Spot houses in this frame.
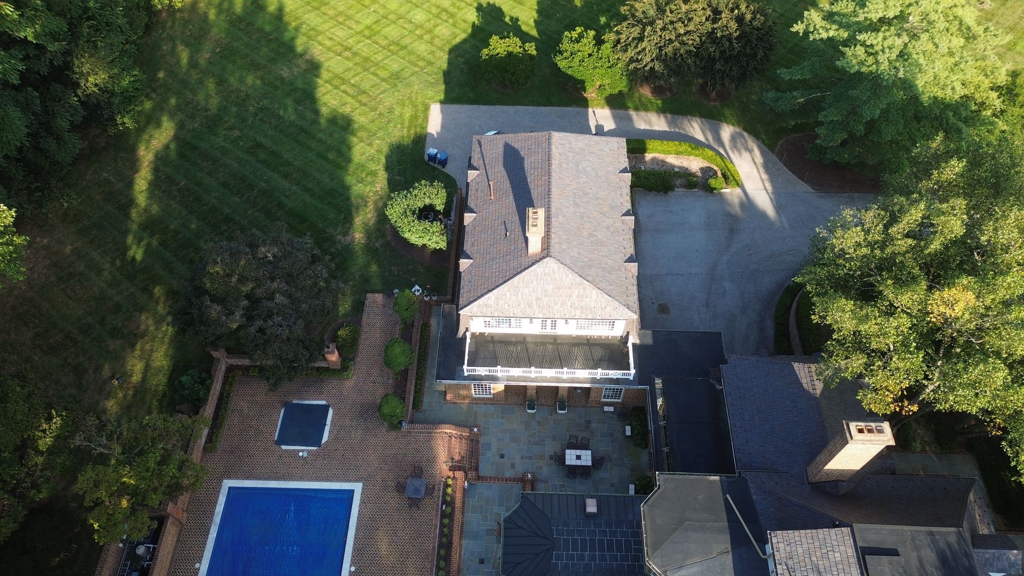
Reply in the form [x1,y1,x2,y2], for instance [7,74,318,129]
[436,130,649,405]
[641,323,1024,576]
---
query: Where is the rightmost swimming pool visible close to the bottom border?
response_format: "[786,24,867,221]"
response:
[198,480,362,576]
